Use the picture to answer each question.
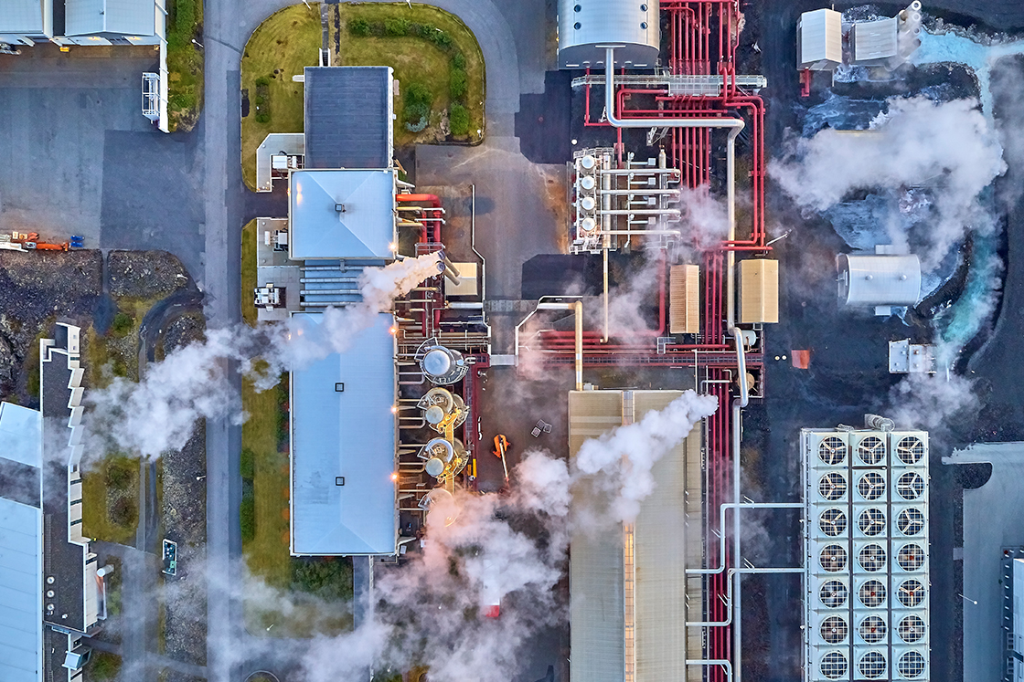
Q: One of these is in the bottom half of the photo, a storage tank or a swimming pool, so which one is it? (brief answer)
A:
storage tank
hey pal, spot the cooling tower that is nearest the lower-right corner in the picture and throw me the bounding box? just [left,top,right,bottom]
[801,428,933,682]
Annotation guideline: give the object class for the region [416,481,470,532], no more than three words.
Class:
storage tank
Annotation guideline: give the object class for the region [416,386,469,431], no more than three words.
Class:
storage tank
